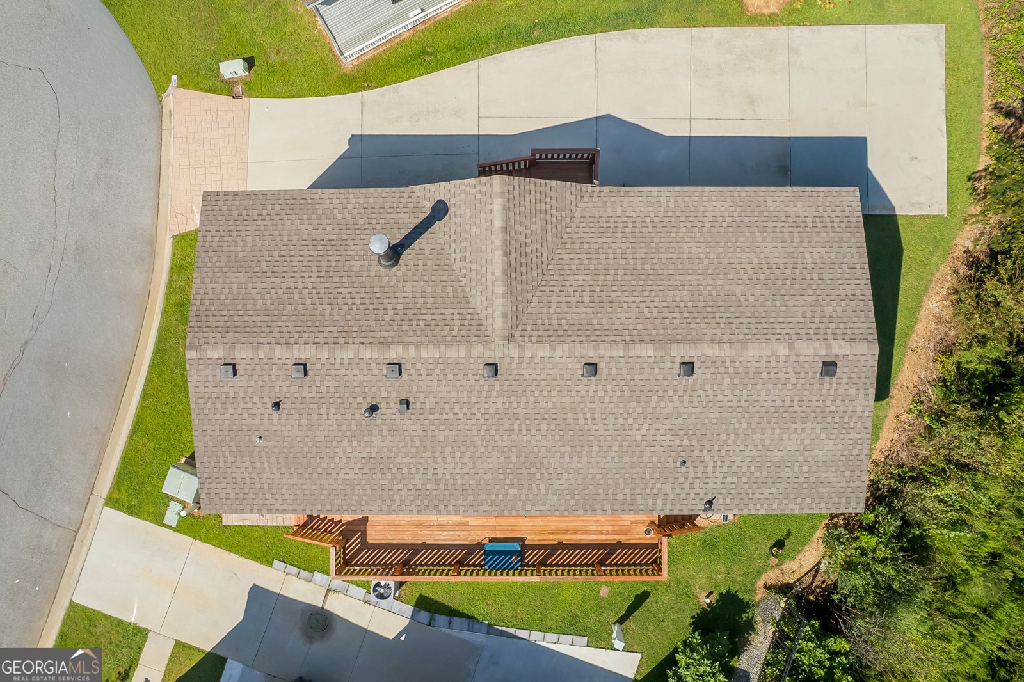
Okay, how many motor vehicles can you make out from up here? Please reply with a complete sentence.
No motor vehicles are visible.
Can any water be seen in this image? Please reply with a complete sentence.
No, there's no water in this view.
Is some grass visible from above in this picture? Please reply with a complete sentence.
Yes, there is grass in the image.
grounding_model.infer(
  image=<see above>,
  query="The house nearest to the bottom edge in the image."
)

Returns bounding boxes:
[184,174,879,517]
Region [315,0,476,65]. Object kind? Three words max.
shed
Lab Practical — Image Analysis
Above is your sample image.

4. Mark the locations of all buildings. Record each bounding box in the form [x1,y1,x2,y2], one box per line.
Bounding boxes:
[315,0,476,65]
[184,174,879,517]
